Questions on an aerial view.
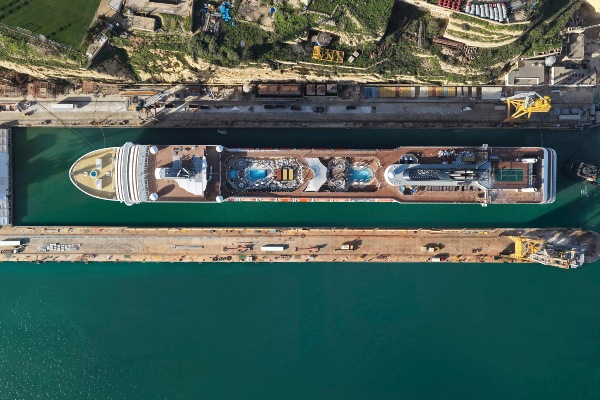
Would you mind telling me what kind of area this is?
port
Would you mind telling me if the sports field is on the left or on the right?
left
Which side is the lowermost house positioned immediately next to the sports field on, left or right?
left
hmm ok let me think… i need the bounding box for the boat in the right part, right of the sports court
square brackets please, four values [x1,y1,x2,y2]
[562,158,600,186]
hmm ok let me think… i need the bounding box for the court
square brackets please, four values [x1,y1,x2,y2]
[493,162,531,188]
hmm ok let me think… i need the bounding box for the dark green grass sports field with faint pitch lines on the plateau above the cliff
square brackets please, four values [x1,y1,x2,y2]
[0,0,97,49]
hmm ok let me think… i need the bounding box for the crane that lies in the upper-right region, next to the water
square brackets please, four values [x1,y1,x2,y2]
[479,90,553,122]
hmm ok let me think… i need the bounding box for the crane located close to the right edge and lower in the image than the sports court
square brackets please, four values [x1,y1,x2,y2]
[507,235,586,269]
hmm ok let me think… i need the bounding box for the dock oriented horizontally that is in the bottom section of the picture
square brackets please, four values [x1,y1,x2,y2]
[0,229,596,263]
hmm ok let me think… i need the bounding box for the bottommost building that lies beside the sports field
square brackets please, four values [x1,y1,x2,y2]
[86,39,107,75]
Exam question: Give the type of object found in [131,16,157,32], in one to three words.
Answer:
house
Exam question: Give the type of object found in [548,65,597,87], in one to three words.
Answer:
building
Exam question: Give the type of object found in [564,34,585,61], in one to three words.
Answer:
shed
